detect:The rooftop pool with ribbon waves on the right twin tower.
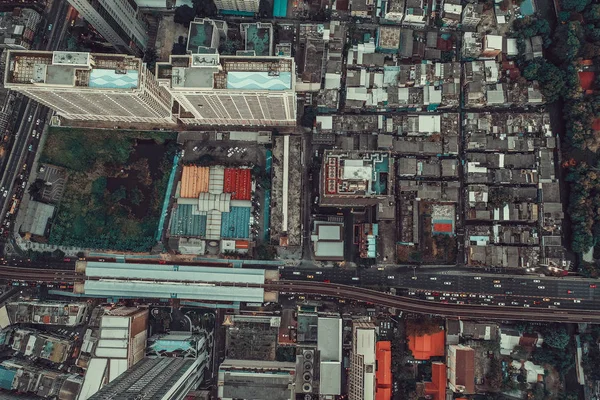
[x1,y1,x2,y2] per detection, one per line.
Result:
[226,71,291,90]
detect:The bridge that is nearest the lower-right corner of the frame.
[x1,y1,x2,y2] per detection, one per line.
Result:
[0,265,600,325]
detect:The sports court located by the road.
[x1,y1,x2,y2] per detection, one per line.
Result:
[432,218,456,237]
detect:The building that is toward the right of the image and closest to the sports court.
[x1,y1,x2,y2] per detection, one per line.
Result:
[429,203,455,218]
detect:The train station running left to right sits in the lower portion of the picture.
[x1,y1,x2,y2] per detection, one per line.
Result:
[73,260,279,303]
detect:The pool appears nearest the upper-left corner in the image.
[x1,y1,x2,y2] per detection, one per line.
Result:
[89,69,138,88]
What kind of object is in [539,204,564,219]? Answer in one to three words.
house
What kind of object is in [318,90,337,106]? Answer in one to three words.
house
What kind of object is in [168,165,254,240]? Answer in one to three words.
building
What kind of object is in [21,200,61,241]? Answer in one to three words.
building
